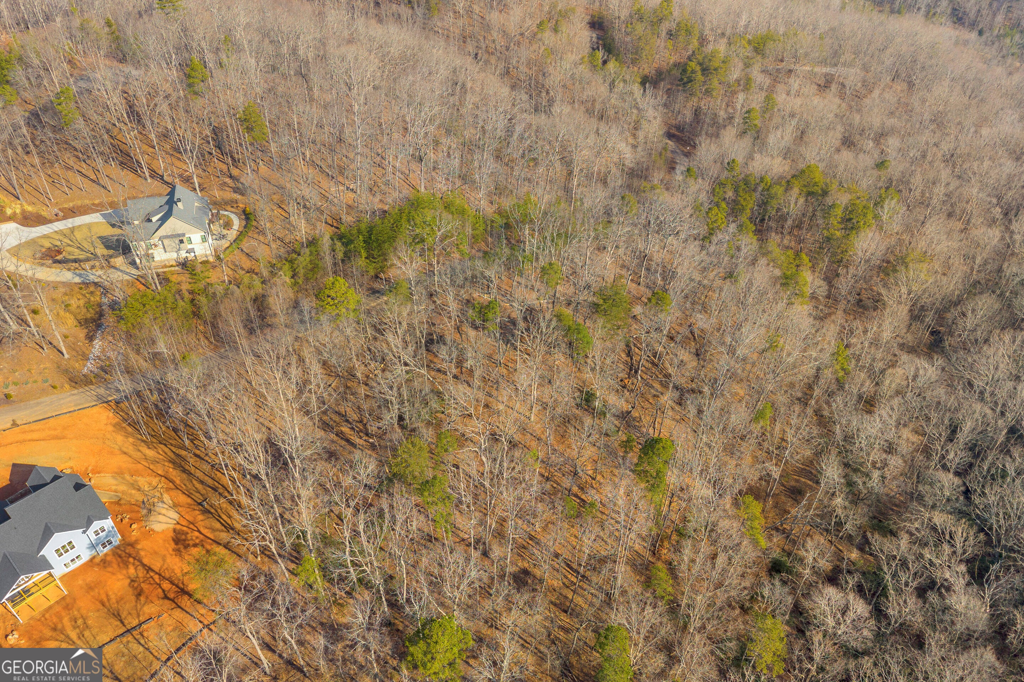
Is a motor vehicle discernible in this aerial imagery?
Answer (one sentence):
No, the photo shows no motor vehicle.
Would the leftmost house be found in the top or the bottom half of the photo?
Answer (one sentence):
Seen from above, the leftmost house lies in the bottom half of the view.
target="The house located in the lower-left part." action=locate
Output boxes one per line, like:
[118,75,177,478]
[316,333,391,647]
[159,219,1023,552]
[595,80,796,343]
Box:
[0,466,123,624]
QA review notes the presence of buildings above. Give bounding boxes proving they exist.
[127,184,215,269]
[0,466,123,624]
